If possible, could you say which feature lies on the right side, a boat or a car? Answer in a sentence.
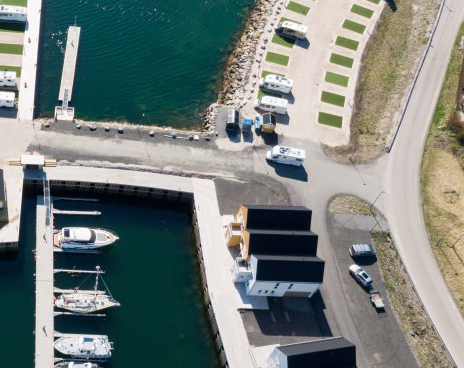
There is a car on the right side.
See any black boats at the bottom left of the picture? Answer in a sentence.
No, looking at the bottom left of the picture, there is no black boat.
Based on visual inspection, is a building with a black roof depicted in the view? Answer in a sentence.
Yes, the frame does contain a building with a black roof.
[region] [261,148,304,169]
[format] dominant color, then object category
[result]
white camper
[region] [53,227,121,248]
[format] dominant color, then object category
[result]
white boat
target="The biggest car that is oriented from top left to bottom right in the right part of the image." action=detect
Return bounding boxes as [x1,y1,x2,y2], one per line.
[347,264,374,289]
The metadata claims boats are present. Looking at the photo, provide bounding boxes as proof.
[53,271,119,312]
[56,361,104,368]
[53,227,121,248]
[54,335,117,360]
